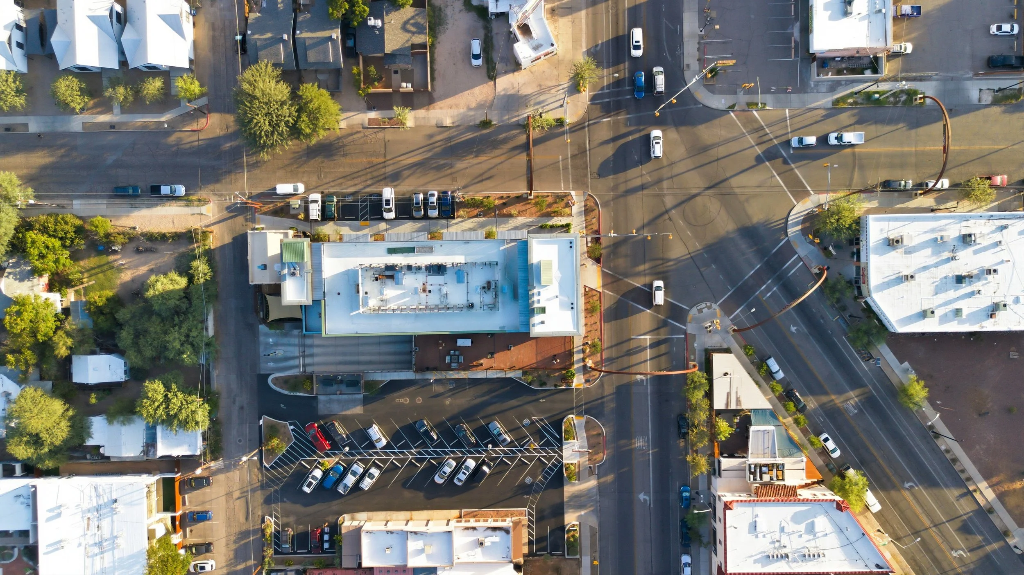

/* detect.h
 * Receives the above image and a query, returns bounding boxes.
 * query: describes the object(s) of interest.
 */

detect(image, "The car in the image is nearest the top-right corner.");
[988,22,1017,36]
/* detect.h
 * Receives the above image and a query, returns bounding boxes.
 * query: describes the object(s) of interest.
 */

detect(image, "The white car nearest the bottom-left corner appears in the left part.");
[191,559,217,572]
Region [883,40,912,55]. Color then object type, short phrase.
white car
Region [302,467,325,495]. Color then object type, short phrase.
white car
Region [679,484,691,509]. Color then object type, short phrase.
blue vehicle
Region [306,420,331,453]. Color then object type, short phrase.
red truck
